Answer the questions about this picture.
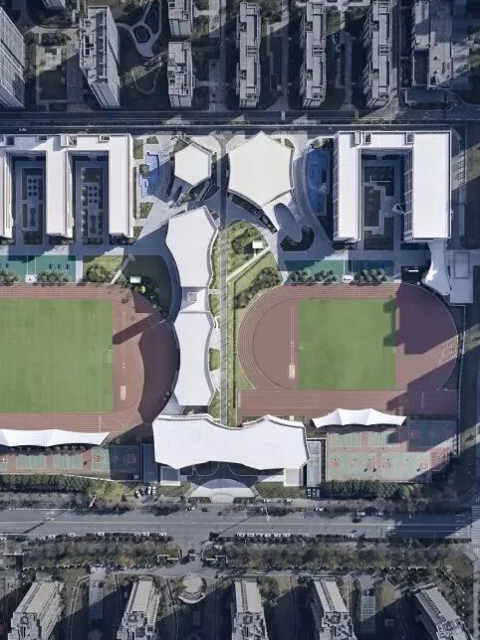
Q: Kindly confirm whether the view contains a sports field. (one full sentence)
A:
Yes, there's a sports field here.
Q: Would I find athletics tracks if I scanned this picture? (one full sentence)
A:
Yes, an athletics track is visible in the scene.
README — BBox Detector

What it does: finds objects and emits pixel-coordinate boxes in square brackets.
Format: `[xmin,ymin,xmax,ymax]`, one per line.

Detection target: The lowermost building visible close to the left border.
[8,582,62,640]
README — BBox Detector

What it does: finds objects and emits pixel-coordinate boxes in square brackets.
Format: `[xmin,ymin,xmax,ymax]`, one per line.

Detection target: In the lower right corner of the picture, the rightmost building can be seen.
[414,586,477,640]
